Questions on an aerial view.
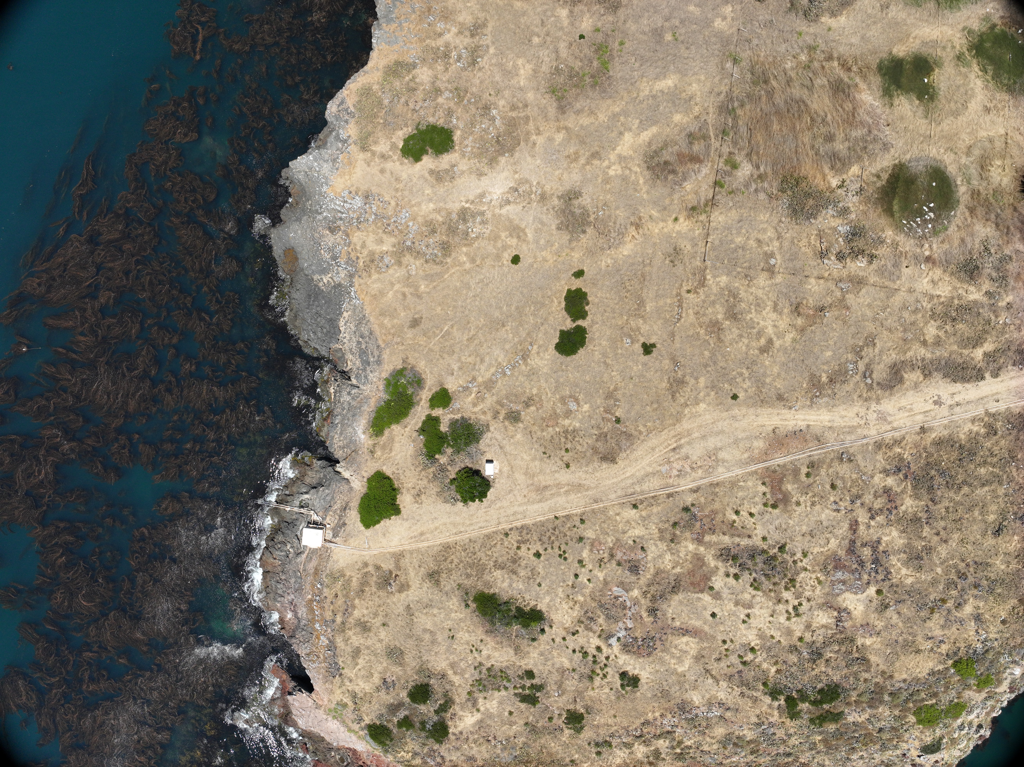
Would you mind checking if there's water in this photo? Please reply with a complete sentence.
Yes, there is water in the image.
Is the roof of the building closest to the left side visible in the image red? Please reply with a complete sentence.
No, the roof of the building closest to the left side is actually white.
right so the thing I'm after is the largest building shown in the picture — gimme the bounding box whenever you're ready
[301,524,325,548]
